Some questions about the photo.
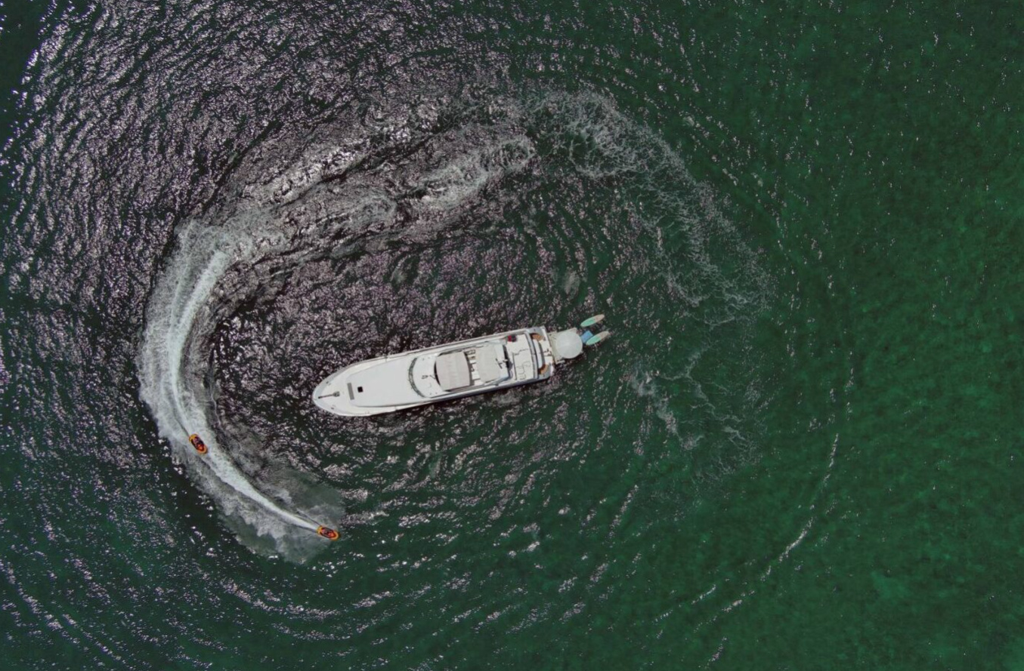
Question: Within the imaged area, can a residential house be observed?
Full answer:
No, no residential house is visible in the scene.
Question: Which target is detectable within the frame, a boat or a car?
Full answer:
Of the two, only a boat appears.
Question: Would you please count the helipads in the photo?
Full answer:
The photo contains no helipads.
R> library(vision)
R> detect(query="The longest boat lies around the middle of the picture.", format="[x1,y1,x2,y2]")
[313,326,582,414]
